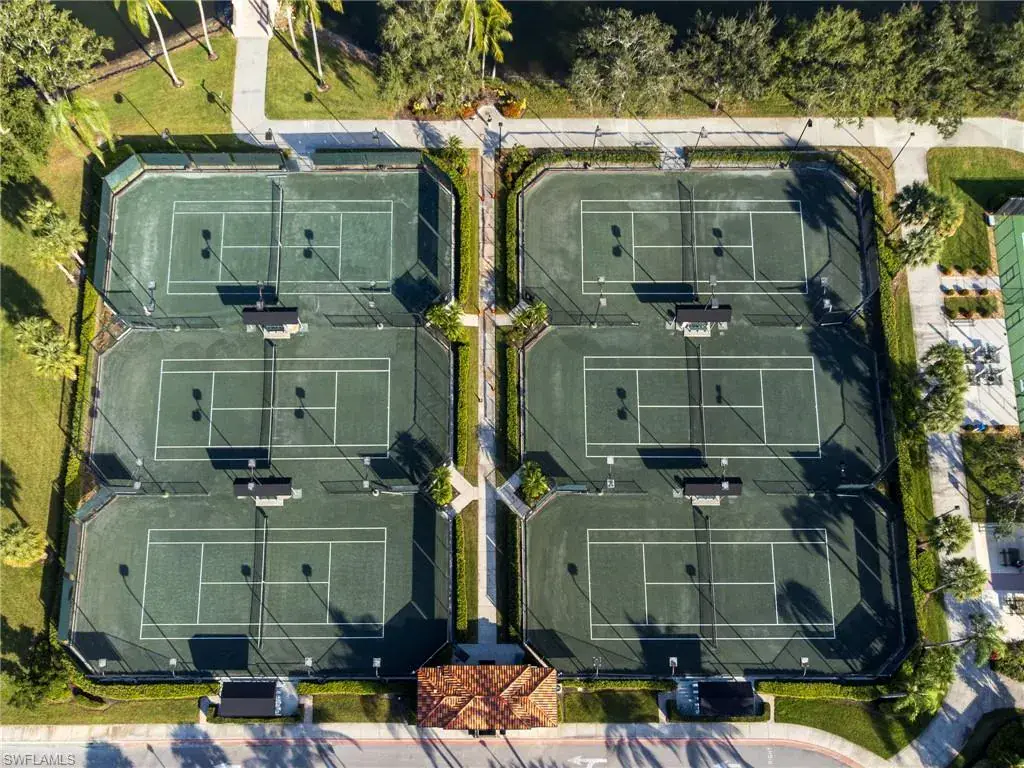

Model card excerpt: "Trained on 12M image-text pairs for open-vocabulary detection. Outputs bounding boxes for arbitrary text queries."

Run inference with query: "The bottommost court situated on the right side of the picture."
[525,494,903,676]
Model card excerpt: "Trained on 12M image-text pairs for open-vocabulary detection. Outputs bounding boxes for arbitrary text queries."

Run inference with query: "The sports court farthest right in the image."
[994,214,1024,436]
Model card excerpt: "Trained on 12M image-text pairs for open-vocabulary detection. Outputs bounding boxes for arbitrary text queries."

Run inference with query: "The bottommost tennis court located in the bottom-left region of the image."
[72,493,449,675]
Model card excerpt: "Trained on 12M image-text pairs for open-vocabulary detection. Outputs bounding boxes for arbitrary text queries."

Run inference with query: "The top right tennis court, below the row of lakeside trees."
[523,168,868,326]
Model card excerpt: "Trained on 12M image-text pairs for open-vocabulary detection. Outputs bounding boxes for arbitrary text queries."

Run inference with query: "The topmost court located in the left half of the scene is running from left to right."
[106,169,450,327]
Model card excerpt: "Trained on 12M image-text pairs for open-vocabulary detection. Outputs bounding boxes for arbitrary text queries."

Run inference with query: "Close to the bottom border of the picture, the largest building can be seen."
[416,663,559,731]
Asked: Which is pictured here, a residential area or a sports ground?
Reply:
sports ground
